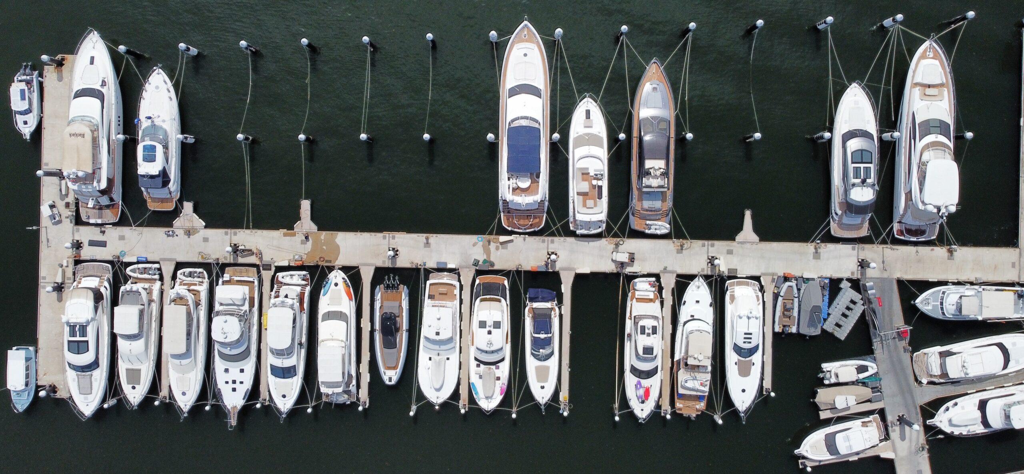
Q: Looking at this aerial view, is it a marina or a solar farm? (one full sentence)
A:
What you see here is a marina.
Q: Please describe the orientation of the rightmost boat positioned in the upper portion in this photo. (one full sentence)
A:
From this overhead view, the rightmost boat positioned in the upper portion appears to run from top to bottom.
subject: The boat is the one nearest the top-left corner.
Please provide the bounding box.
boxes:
[10,58,44,142]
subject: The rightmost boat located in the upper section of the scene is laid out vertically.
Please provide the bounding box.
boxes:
[892,34,959,240]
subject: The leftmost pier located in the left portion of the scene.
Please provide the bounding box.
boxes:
[37,54,78,398]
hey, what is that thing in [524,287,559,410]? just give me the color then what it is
white boat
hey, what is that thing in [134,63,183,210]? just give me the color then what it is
white boat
